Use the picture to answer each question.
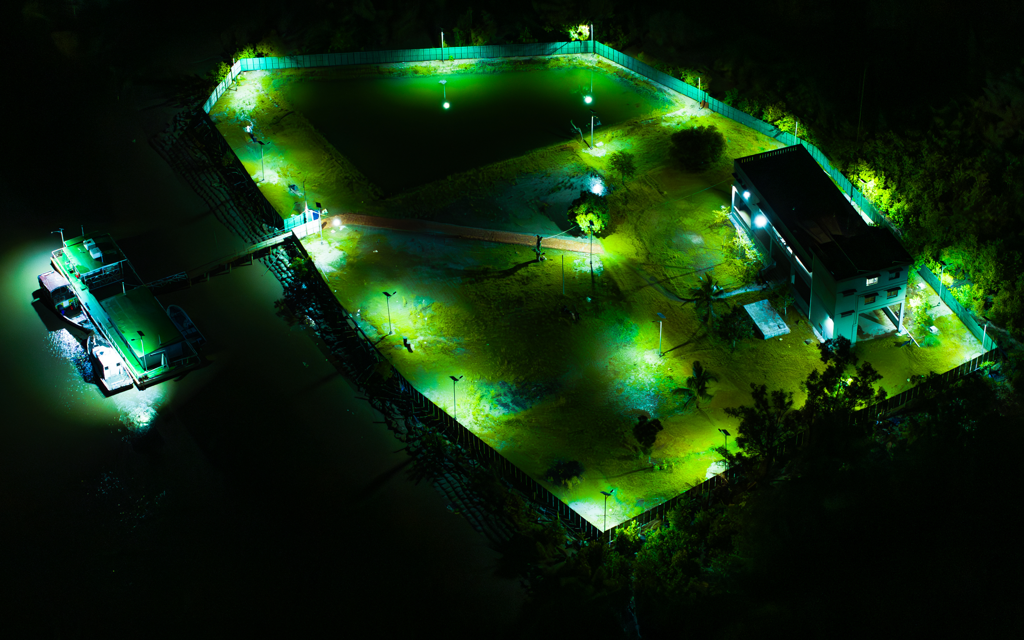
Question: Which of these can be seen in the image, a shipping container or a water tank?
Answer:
water tank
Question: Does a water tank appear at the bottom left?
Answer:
No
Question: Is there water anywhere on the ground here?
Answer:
Yes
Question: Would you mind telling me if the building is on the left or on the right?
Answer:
right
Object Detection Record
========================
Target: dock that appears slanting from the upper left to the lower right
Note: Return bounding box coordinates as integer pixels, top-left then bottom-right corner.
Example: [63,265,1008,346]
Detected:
[49,233,203,387]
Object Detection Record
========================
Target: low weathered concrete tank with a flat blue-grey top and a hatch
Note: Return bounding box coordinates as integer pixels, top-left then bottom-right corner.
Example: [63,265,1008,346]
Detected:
[749,299,790,342]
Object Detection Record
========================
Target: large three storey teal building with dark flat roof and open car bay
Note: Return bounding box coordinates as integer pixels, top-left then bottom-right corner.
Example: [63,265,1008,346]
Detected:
[725,140,918,352]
